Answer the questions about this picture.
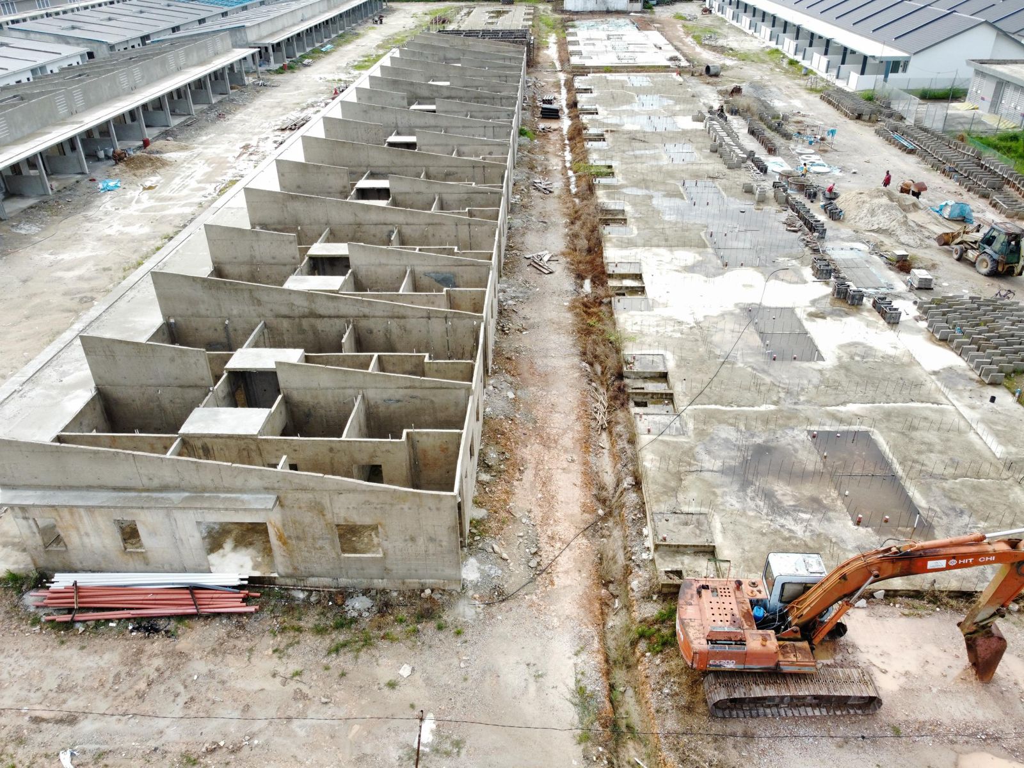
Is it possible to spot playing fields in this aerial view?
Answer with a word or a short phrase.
No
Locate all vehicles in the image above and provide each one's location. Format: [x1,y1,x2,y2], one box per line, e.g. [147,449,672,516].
[930,223,1024,281]
[671,522,1024,720]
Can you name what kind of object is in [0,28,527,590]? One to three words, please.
building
